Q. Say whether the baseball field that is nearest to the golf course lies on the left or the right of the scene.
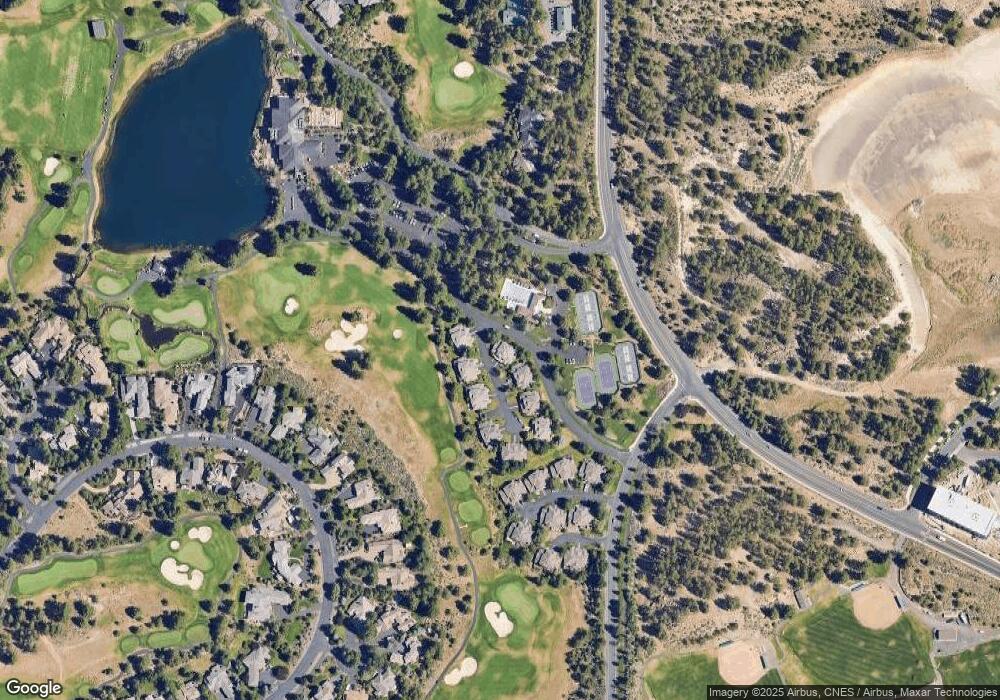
right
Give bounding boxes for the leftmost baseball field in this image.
[642,638,802,700]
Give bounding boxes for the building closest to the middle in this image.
[488,340,518,368]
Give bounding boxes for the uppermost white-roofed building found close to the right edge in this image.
[927,487,996,539]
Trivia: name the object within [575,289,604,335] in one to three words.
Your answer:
tennis court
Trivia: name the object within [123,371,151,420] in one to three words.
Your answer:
house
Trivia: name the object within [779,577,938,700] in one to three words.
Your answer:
baseball field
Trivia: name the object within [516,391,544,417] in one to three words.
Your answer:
building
